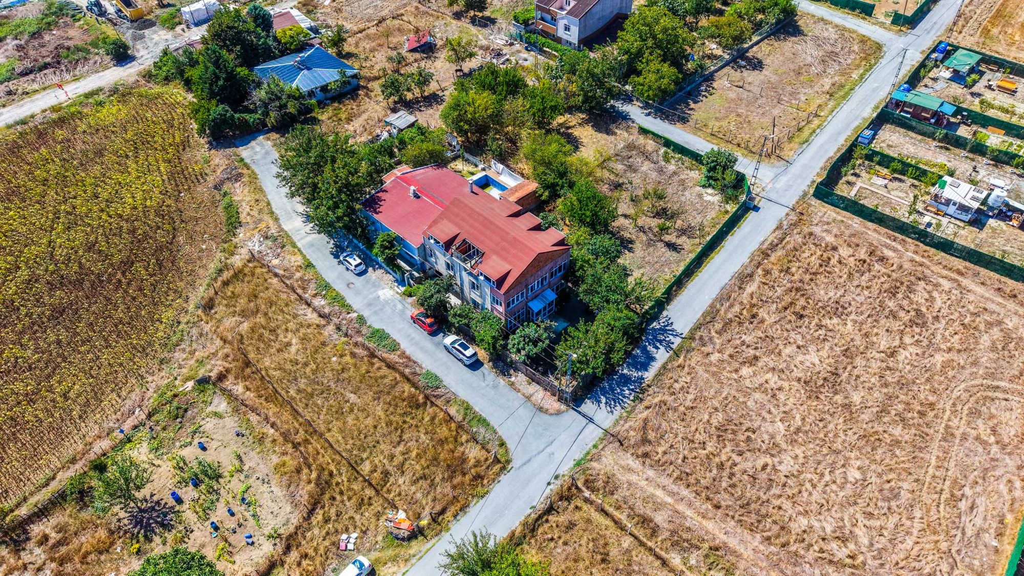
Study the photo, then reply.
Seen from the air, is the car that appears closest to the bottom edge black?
No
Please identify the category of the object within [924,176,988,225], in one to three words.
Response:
building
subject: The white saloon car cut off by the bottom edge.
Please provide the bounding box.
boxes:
[334,553,375,576]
